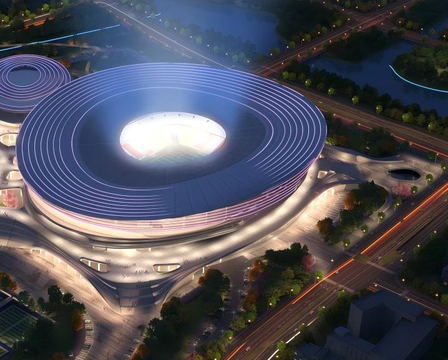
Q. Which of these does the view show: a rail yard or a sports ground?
sports ground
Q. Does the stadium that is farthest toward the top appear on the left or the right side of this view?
left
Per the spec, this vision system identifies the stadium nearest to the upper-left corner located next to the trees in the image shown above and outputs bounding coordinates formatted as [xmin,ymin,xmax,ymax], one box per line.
[0,54,70,124]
